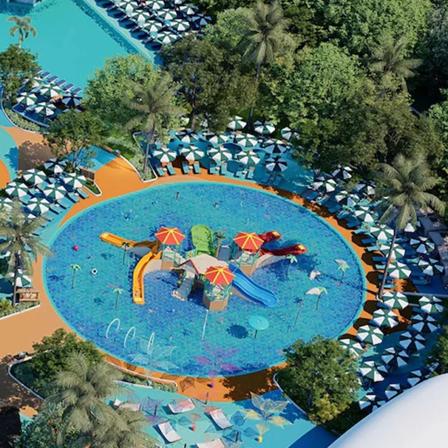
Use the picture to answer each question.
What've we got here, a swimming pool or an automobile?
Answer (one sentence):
I can see a swimming pool in this picture.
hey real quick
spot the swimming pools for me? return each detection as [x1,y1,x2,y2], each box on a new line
[47,182,363,374]
[0,0,160,91]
